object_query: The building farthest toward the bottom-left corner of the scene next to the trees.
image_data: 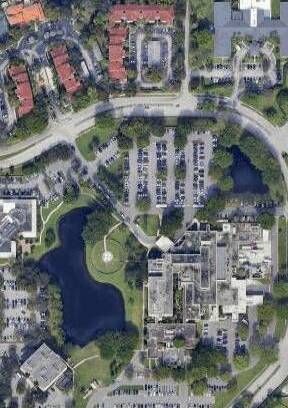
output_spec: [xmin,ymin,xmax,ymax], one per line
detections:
[19,343,72,391]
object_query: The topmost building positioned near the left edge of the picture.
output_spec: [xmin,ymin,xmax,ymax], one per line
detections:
[6,3,43,24]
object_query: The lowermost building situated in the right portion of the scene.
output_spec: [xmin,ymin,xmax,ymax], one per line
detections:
[145,223,271,362]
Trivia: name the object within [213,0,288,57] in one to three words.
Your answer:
building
